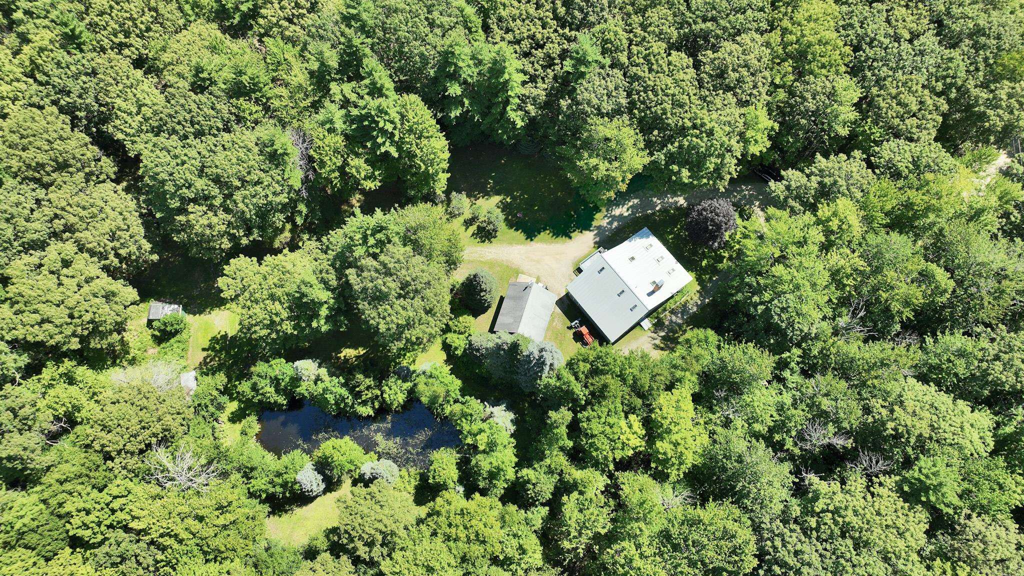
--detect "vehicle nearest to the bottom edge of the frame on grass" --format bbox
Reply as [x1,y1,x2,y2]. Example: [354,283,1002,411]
[569,320,597,350]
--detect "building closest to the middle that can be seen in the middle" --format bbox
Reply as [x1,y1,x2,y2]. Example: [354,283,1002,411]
[494,282,557,342]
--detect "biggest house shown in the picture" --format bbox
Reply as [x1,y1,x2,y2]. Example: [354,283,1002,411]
[565,227,693,344]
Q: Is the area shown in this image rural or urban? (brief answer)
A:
rural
